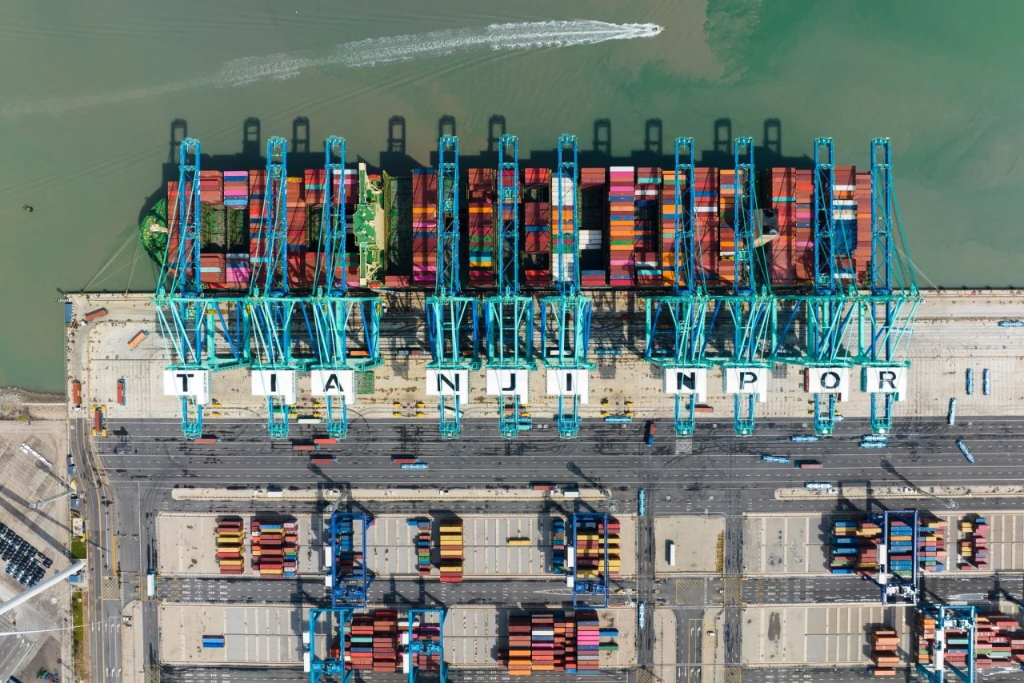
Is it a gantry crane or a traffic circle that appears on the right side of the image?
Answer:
gantry crane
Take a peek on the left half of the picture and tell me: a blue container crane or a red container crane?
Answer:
blue container crane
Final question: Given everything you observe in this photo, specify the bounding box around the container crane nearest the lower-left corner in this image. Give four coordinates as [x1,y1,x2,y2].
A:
[304,607,357,683]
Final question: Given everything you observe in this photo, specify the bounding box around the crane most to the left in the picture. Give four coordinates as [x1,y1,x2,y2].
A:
[149,135,262,437]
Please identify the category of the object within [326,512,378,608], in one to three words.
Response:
container crane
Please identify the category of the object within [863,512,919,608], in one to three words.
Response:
container crane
